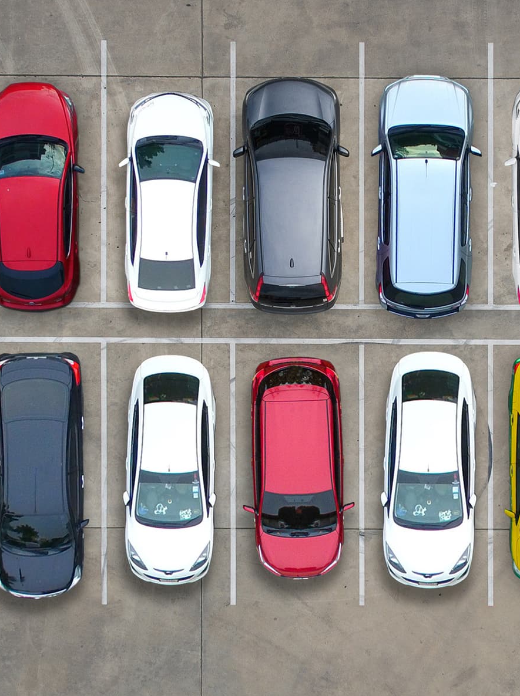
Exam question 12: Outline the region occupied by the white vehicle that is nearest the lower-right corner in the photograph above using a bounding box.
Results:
[382,352,479,588]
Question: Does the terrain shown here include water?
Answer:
No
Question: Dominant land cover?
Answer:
paved ground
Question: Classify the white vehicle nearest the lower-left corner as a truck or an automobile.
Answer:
automobile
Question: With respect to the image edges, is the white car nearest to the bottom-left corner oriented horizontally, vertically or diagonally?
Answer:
vertically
